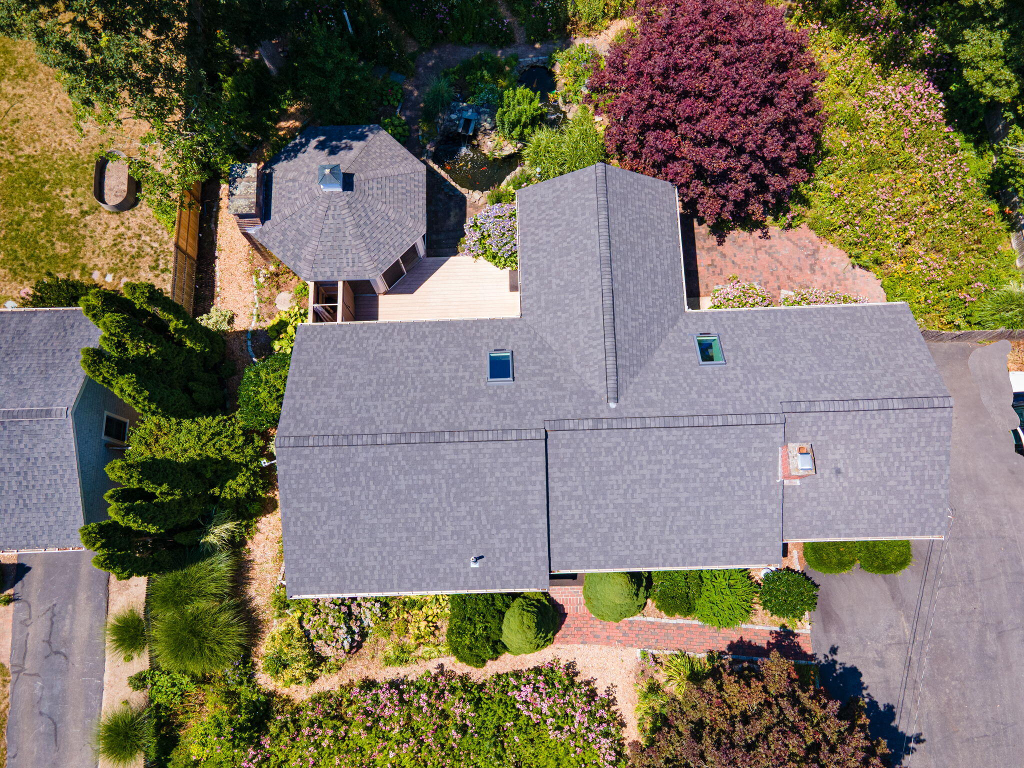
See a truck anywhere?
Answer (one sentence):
No, this view has no truck in it.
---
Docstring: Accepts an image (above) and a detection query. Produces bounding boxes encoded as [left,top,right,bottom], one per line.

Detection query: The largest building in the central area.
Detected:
[259,165,953,601]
